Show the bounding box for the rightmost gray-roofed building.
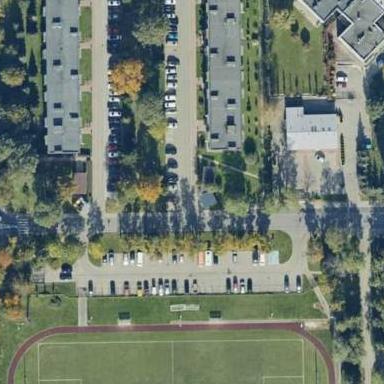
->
[340,0,384,60]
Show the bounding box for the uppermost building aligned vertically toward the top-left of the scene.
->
[43,0,83,153]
